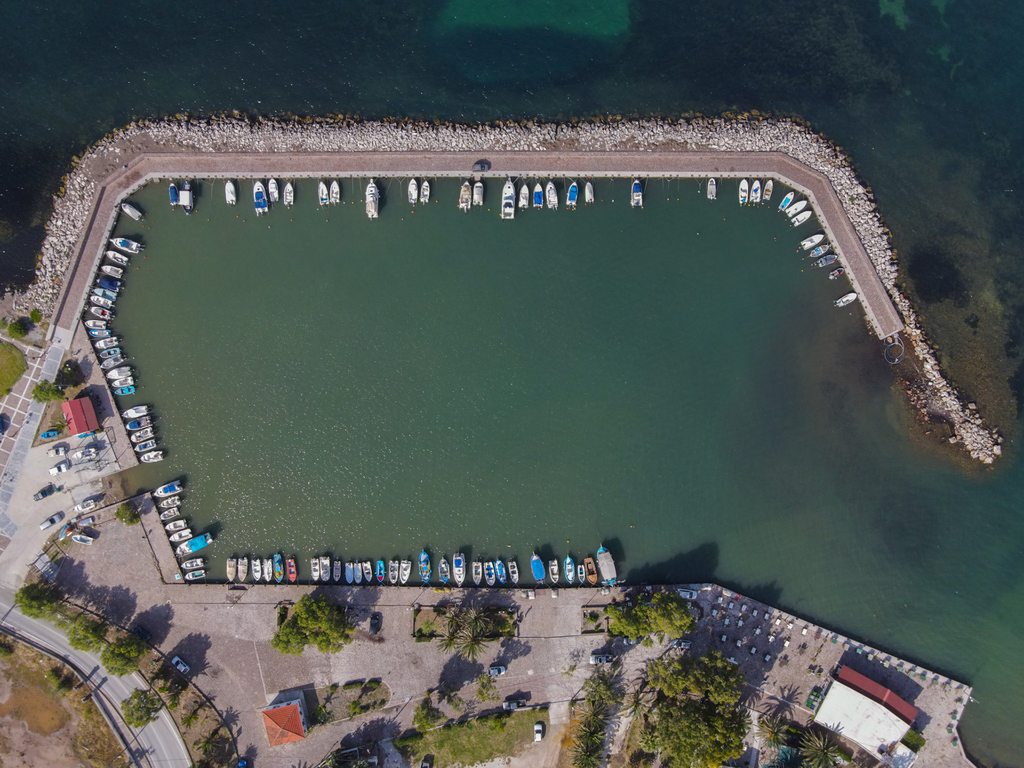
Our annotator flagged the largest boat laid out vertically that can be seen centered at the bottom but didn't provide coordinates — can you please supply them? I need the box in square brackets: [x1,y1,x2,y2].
[599,545,617,588]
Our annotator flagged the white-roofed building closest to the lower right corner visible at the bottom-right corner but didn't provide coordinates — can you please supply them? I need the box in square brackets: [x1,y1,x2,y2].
[809,663,919,768]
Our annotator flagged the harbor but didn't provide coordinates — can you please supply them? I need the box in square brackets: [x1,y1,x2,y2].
[47,153,980,768]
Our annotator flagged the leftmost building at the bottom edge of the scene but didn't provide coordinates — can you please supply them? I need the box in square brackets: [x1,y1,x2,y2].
[262,698,308,746]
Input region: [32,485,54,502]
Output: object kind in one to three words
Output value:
vehicle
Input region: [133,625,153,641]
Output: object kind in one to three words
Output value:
car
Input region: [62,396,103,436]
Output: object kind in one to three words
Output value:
shed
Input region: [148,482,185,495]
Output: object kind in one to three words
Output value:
boat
